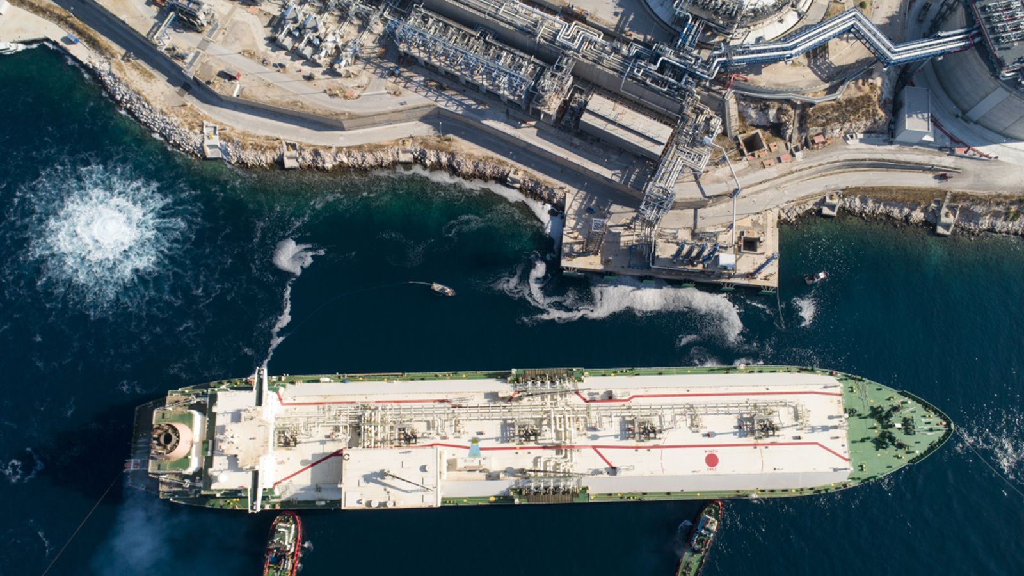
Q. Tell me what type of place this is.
port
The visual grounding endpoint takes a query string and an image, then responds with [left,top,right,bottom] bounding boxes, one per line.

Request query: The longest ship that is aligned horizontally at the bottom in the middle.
[123,363,957,513]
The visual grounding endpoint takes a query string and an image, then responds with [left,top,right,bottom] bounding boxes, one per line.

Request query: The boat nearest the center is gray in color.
[410,281,456,296]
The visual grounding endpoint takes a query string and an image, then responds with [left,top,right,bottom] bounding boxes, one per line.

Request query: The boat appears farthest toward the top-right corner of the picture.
[803,271,828,285]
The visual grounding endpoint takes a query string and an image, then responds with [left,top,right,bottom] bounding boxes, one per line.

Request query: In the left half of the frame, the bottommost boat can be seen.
[259,511,303,576]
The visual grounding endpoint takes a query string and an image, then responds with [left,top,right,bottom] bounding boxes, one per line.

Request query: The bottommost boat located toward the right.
[671,500,726,576]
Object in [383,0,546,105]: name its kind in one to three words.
building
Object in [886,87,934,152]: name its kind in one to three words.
building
